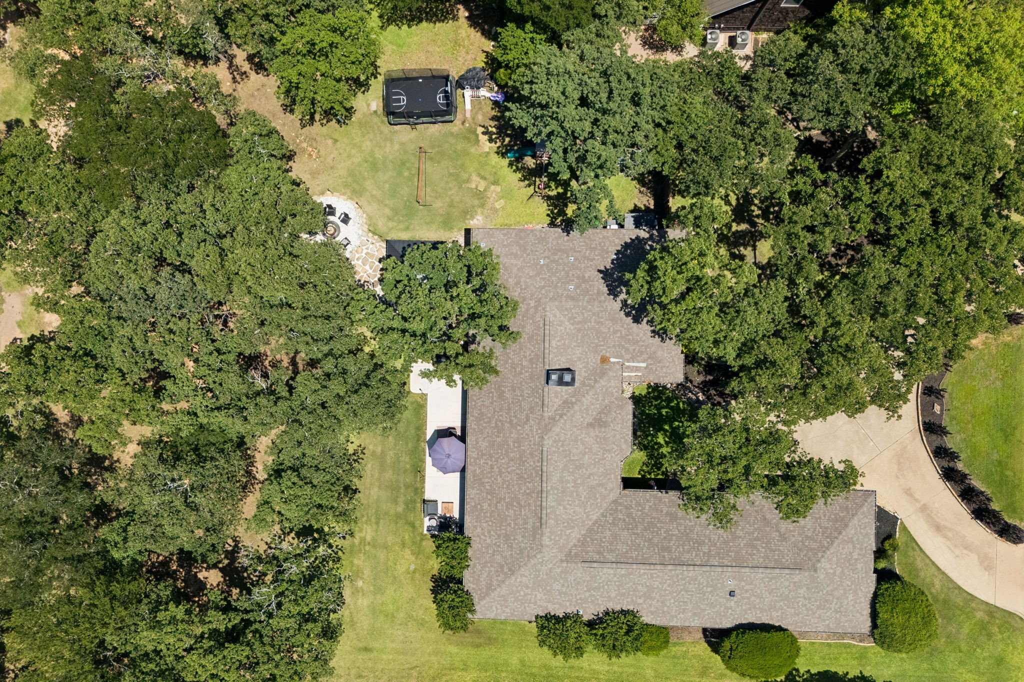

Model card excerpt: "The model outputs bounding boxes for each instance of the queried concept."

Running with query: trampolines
[384,68,458,137]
